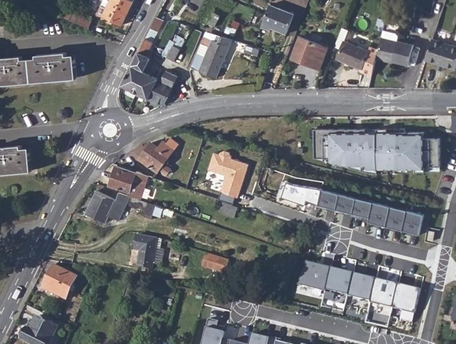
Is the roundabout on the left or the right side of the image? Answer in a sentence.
The roundabout is on the left side of the image.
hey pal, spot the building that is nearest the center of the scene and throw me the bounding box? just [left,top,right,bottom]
[208,151,249,217]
